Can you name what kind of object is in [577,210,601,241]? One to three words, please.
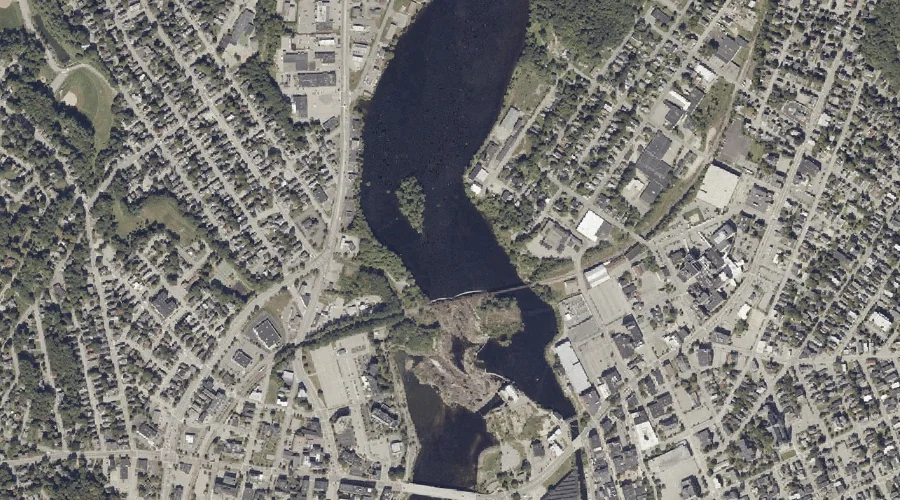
building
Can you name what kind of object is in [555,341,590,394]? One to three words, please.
building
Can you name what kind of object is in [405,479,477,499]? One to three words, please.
bridge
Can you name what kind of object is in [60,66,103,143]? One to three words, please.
baseball field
